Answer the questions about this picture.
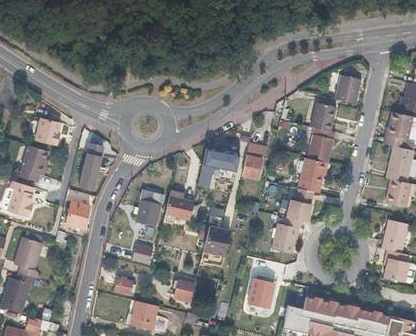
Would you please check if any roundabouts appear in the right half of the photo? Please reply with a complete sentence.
Yes, you'll find a roundabout in the right half of the photo.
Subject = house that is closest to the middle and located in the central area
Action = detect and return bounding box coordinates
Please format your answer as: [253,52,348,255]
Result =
[198,148,239,188]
